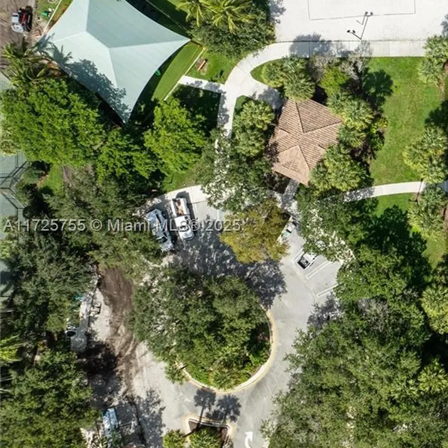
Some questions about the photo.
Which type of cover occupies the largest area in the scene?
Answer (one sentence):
What you mostly see from above here is trees.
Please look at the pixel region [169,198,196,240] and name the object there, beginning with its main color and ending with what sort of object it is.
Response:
white truck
